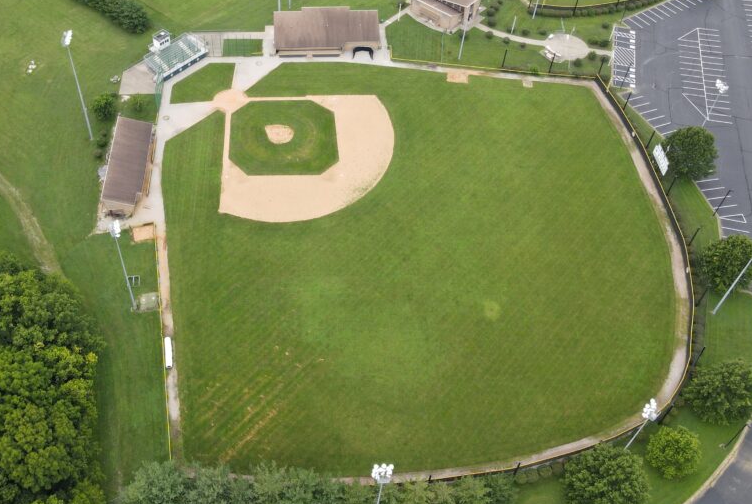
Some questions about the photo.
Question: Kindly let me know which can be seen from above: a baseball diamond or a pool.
baseball diamond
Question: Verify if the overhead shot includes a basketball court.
No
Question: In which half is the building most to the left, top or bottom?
top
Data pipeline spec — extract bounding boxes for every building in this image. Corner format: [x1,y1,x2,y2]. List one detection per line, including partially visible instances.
[274,5,383,61]
[412,0,478,23]
[96,116,154,217]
